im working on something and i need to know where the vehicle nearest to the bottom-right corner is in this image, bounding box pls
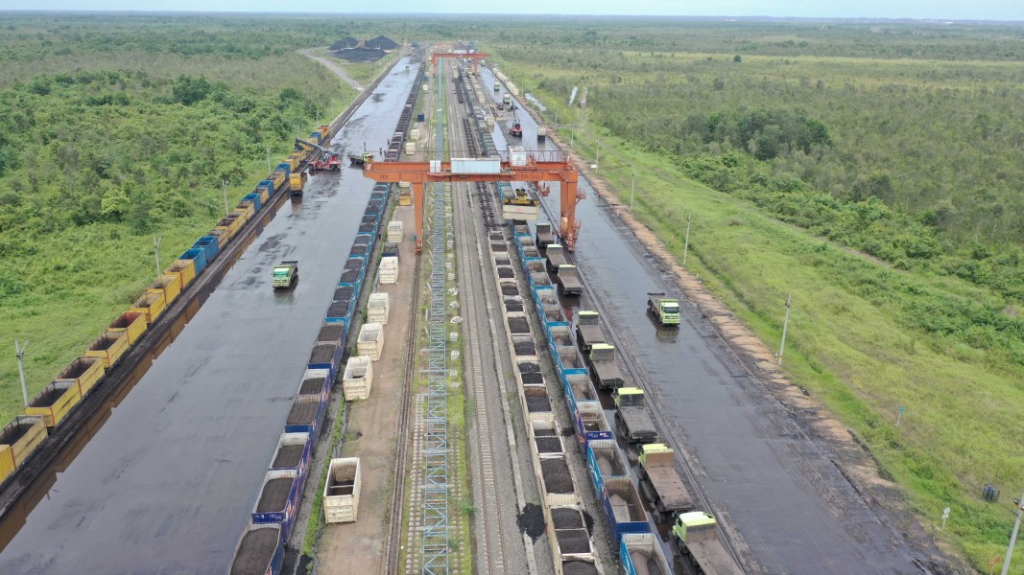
[669,511,730,575]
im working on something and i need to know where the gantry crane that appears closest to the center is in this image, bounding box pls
[362,139,589,250]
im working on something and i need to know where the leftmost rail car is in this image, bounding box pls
[0,437,48,491]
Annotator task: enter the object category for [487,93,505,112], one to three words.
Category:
work vehicle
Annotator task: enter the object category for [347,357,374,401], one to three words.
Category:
shipping container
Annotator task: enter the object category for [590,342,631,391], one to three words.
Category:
truck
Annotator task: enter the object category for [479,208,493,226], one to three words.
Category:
rail car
